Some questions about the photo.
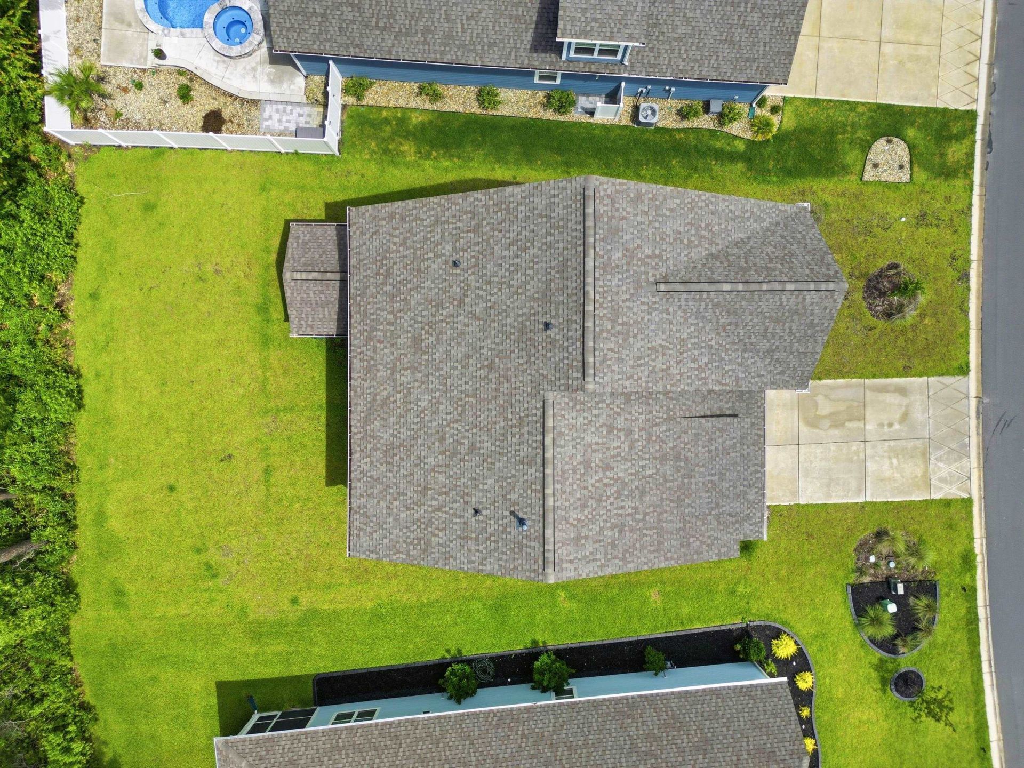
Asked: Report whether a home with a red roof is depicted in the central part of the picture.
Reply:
No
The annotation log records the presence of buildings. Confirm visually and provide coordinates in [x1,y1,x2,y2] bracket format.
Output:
[281,174,848,582]
[211,660,808,768]
[268,0,805,111]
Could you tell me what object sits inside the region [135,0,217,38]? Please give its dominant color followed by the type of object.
blue swimming pool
